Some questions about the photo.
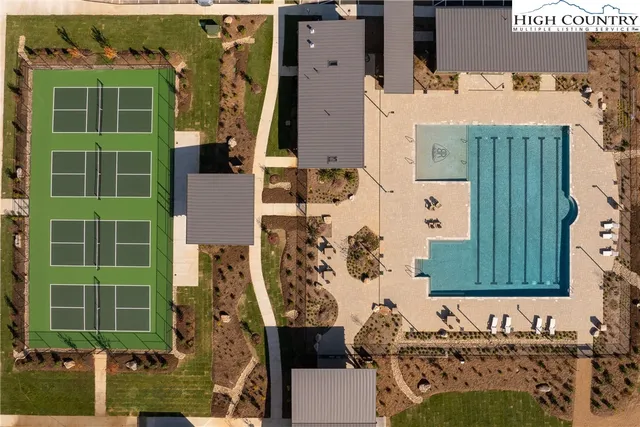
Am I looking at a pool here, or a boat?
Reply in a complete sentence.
The image shows a pool.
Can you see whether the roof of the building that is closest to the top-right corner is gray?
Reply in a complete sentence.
Yes, the roof of the building that is closest to the top-right corner is gray.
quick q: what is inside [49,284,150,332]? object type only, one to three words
sports court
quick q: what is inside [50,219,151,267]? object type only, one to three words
sports court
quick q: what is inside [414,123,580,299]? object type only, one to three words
swimming pool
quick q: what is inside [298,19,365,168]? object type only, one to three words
building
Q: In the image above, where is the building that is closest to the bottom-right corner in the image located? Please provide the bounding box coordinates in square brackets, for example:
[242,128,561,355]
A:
[291,368,377,427]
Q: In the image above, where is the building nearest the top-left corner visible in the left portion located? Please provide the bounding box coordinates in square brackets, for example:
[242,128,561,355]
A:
[187,174,255,245]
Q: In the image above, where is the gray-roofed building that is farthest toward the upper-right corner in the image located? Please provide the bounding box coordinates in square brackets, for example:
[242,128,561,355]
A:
[436,8,589,76]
